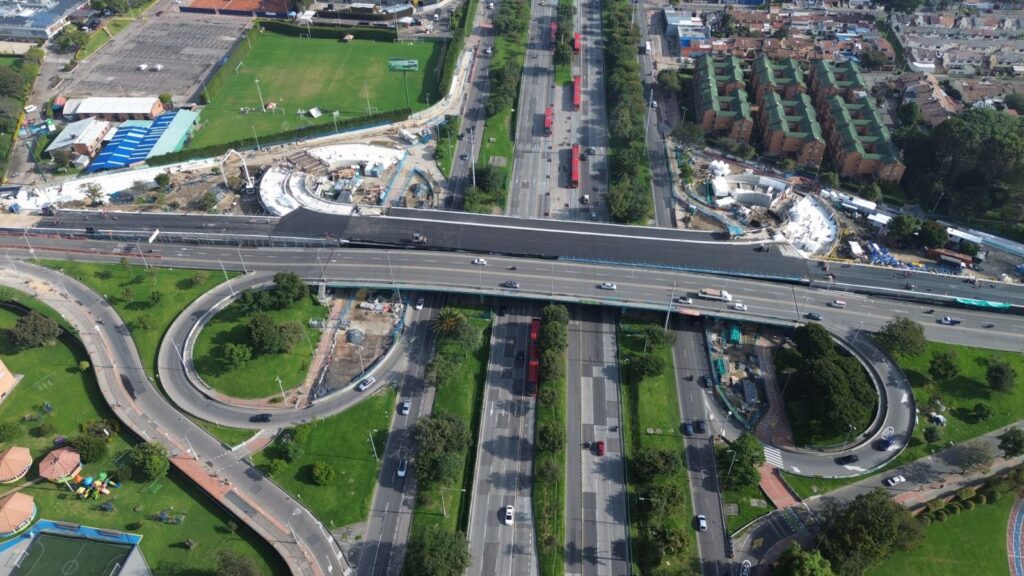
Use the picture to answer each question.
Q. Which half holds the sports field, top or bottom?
top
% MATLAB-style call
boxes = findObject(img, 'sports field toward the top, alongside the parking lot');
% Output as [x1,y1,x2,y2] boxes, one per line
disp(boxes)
[183,33,446,148]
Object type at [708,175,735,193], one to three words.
tent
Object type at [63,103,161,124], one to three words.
building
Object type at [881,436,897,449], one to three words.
vehicle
